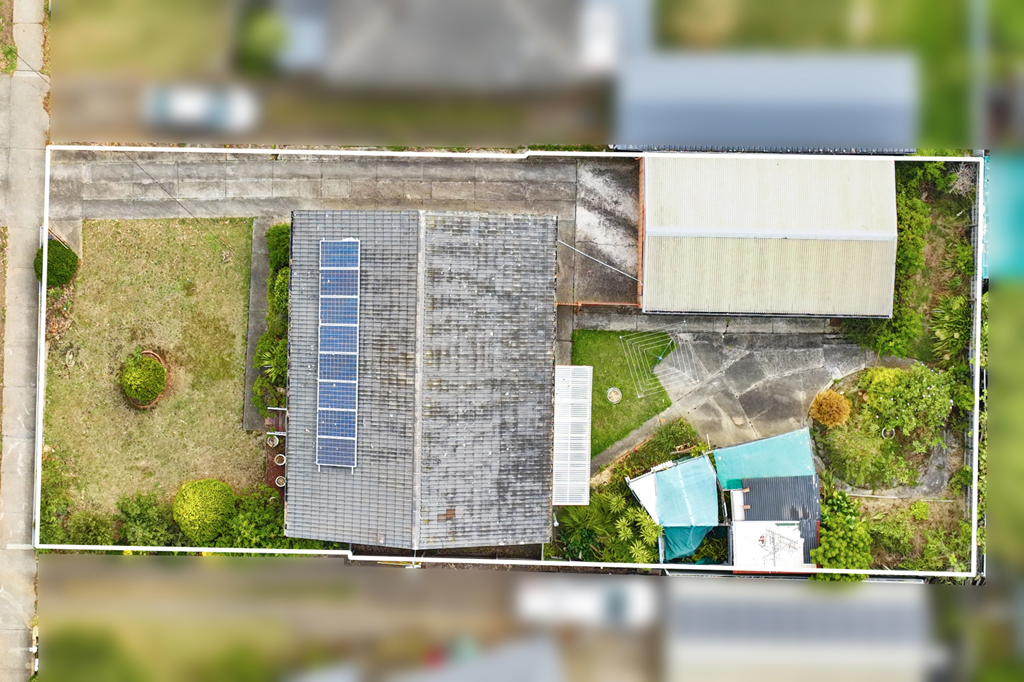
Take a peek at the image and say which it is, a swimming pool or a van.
van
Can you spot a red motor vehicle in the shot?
No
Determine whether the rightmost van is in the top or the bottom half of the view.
bottom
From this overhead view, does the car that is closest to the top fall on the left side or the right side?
left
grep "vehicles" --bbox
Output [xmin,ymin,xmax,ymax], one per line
[515,577,655,634]
[143,80,260,134]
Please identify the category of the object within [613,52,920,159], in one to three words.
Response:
building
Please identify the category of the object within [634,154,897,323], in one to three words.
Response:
building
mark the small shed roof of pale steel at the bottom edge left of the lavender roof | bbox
[295,651,365,682]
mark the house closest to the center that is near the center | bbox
[281,208,560,548]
